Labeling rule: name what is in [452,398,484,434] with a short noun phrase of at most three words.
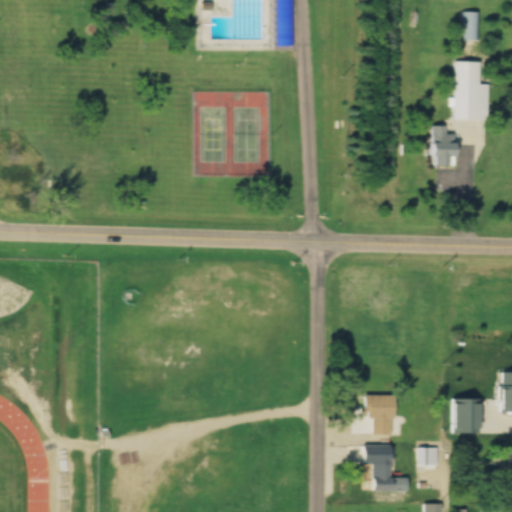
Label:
house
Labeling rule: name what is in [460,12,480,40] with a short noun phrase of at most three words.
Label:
shed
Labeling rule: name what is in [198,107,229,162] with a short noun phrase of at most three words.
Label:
tennis court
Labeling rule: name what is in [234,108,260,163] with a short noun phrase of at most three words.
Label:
tennis court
